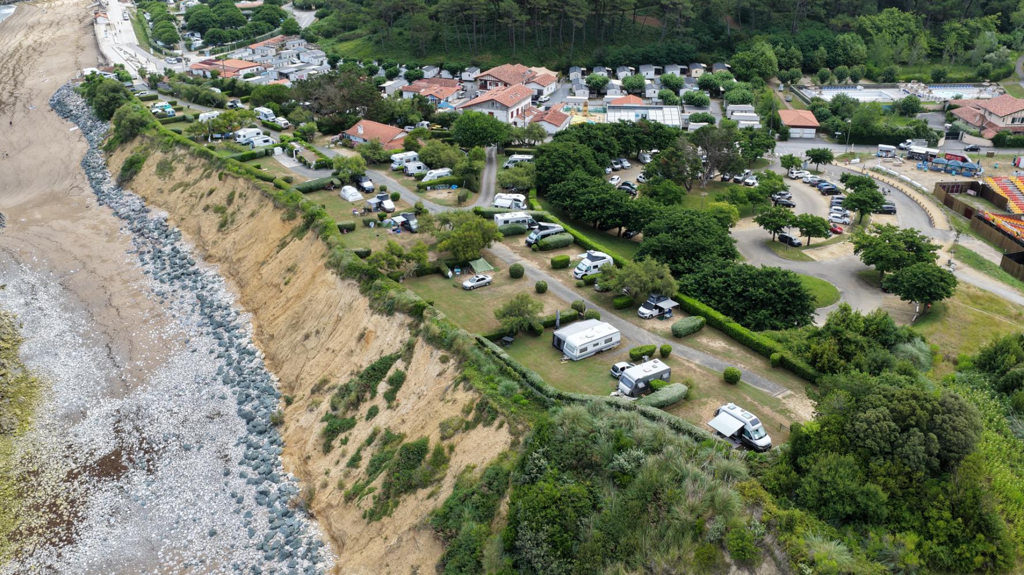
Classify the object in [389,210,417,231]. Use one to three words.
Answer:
camper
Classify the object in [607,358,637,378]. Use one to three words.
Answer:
car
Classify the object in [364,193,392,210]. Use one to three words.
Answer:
camper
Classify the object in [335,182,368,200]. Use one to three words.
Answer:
tent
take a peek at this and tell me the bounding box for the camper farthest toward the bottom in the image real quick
[706,398,783,462]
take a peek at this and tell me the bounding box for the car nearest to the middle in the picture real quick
[461,276,494,291]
